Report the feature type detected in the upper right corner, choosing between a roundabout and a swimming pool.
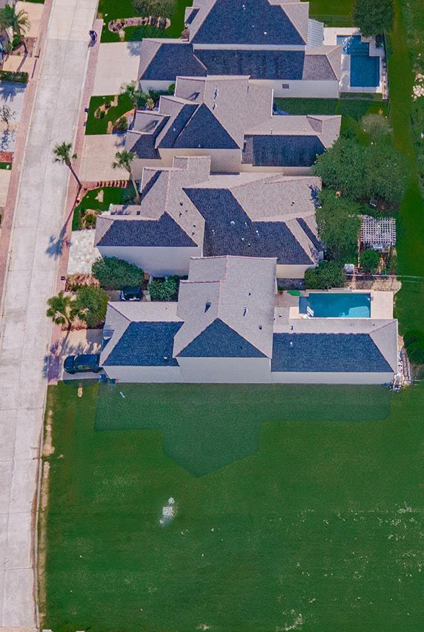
swimming pool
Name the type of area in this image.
residential area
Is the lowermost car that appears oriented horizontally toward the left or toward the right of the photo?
left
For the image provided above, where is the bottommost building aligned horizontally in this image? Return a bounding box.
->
[102,256,398,381]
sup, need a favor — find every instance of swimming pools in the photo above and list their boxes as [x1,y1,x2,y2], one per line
[334,33,381,88]
[297,291,373,319]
